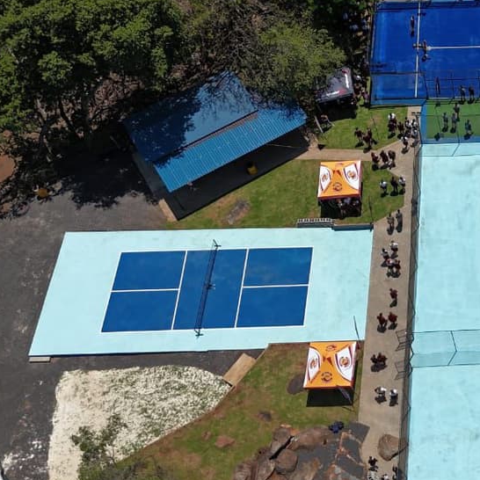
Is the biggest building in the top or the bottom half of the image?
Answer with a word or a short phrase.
top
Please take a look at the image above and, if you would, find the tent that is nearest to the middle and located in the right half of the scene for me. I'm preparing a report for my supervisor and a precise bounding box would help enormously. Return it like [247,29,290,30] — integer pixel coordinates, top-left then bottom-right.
[318,162,366,215]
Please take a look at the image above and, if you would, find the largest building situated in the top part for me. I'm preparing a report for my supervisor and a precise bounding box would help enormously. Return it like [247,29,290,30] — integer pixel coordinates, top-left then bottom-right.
[122,66,309,231]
